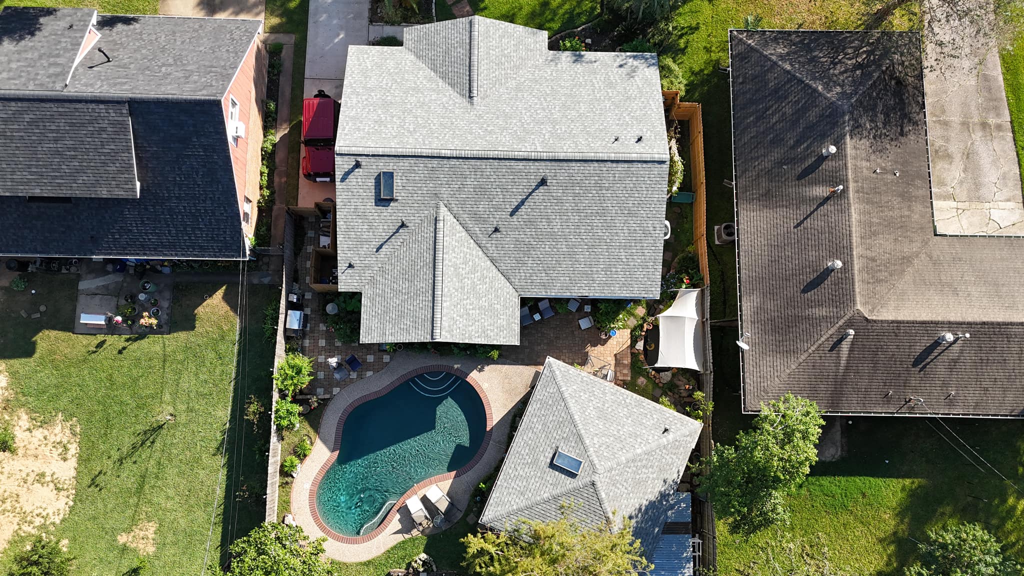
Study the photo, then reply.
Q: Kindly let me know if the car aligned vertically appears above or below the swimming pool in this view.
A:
above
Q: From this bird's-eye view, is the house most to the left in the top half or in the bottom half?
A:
top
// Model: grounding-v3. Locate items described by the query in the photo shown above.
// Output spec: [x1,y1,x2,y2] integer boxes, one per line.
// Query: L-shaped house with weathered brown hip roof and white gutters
[710,27,1024,417]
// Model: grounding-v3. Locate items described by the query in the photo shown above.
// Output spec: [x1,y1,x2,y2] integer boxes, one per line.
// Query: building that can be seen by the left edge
[0,10,271,261]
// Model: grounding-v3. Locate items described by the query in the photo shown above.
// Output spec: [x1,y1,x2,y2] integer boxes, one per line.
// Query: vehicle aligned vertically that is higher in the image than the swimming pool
[297,90,341,180]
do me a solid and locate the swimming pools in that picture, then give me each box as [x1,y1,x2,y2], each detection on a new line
[309,364,494,545]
